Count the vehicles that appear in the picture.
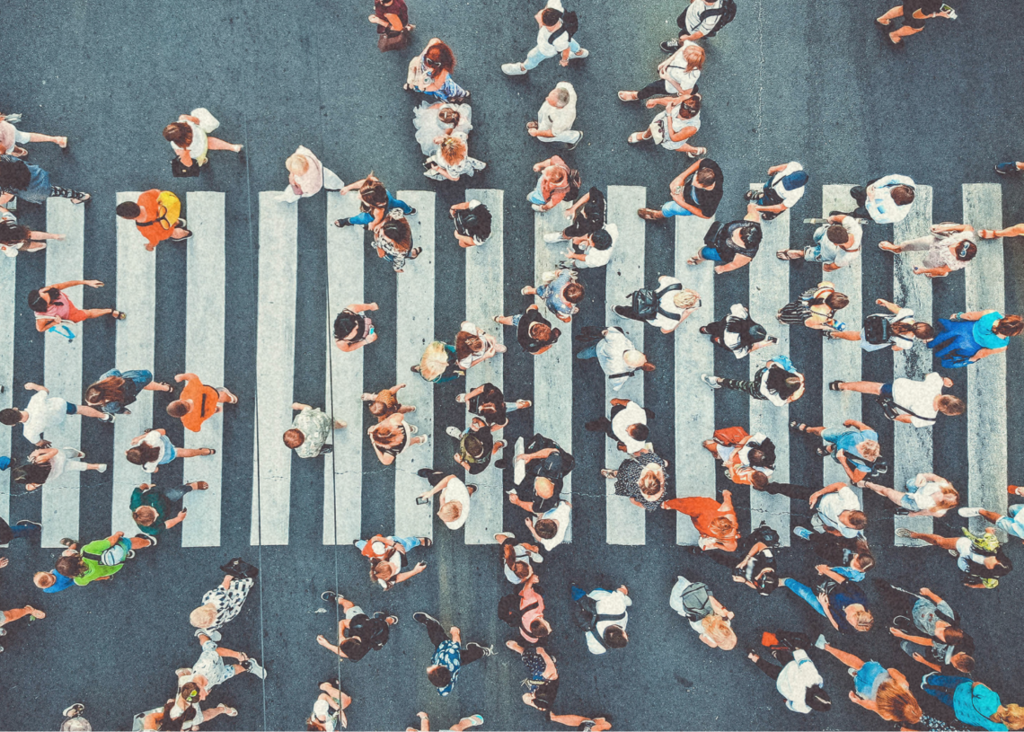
zero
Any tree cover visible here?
No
